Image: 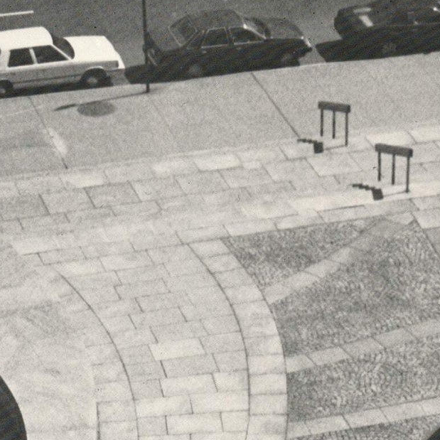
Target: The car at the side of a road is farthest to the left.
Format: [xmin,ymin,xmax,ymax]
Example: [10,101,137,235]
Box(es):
[0,23,127,98]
